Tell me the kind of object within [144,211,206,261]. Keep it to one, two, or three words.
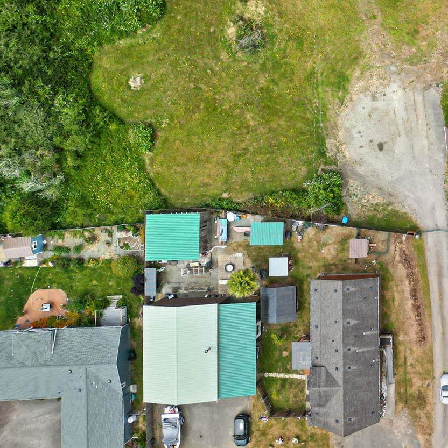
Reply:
shed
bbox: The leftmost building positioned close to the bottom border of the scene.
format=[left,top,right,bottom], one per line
[0,325,132,448]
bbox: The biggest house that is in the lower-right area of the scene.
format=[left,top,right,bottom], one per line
[292,275,394,437]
